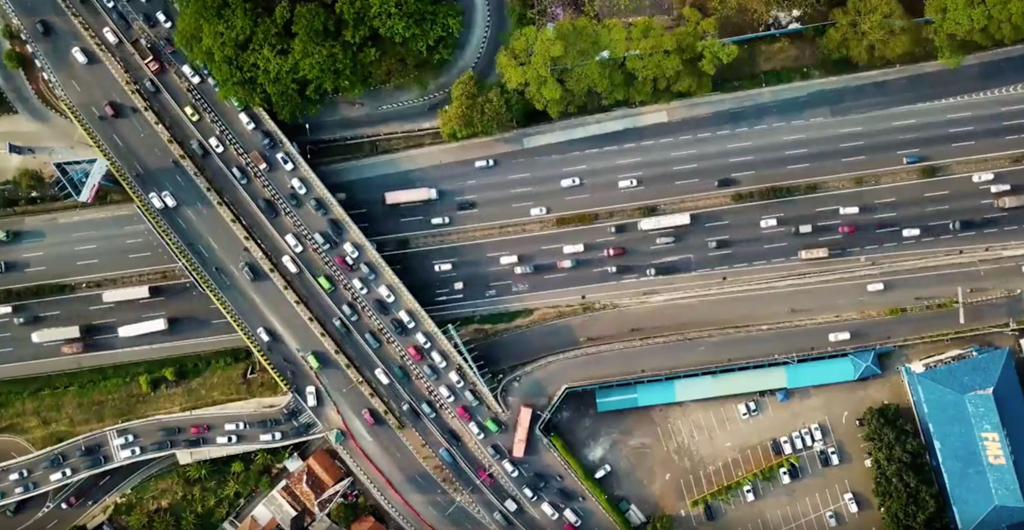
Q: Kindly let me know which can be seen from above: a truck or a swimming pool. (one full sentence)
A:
I can see a truck in this picture.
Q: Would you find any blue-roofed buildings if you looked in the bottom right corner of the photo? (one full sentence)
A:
Yes, in the bottom right corner of the photo there is a blue-roofed building.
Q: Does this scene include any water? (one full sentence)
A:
No, the picture contains no water.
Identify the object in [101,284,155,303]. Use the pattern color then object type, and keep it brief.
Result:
white vehicle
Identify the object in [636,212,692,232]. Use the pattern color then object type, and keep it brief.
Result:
white bus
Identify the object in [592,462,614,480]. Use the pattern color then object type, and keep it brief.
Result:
white car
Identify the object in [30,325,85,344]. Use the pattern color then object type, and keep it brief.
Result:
white vehicle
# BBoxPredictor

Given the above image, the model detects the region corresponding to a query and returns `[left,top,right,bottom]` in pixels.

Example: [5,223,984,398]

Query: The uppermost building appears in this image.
[843,347,894,381]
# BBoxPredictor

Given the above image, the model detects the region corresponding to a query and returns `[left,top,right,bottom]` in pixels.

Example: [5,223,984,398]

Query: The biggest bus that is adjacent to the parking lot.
[510,403,534,460]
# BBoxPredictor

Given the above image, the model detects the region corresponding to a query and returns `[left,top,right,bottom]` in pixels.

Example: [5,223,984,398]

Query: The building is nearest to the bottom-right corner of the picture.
[900,346,1024,530]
